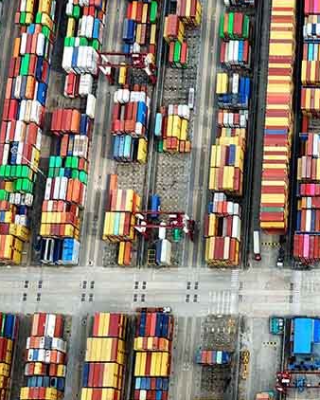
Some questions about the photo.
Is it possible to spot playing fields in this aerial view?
No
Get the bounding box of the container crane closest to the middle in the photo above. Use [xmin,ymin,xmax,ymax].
[135,212,209,245]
